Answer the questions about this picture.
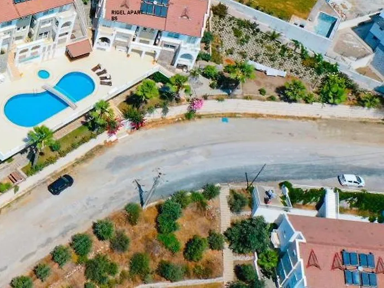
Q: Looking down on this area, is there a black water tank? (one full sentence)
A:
No, there is no black water tank in the image.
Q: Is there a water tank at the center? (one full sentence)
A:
No, no water tank appears at the center.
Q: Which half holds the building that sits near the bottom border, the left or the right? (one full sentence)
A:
The building that sits near the bottom border is on the right side of the image.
